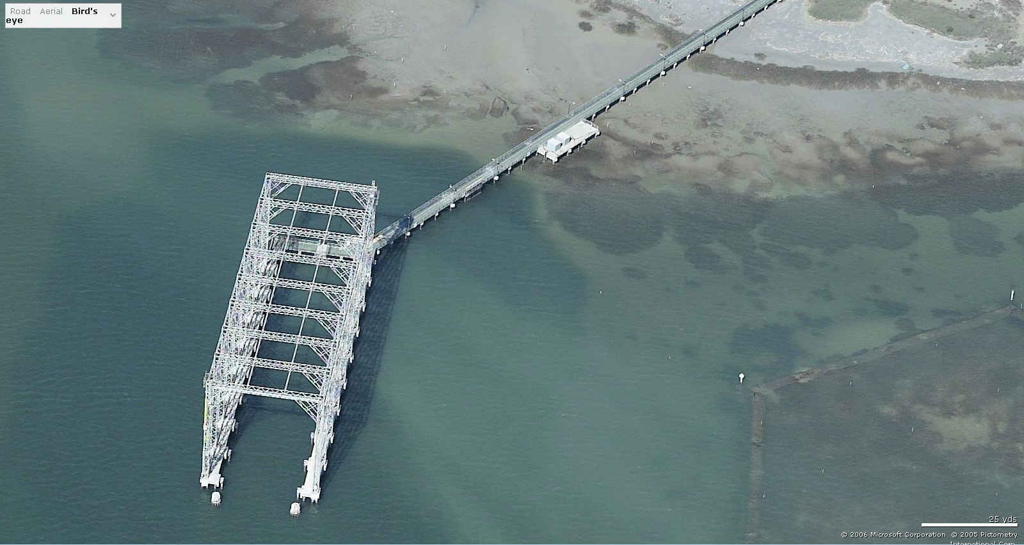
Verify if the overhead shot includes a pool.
No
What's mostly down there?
water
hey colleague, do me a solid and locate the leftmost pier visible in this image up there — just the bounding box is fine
[203,233,294,492]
